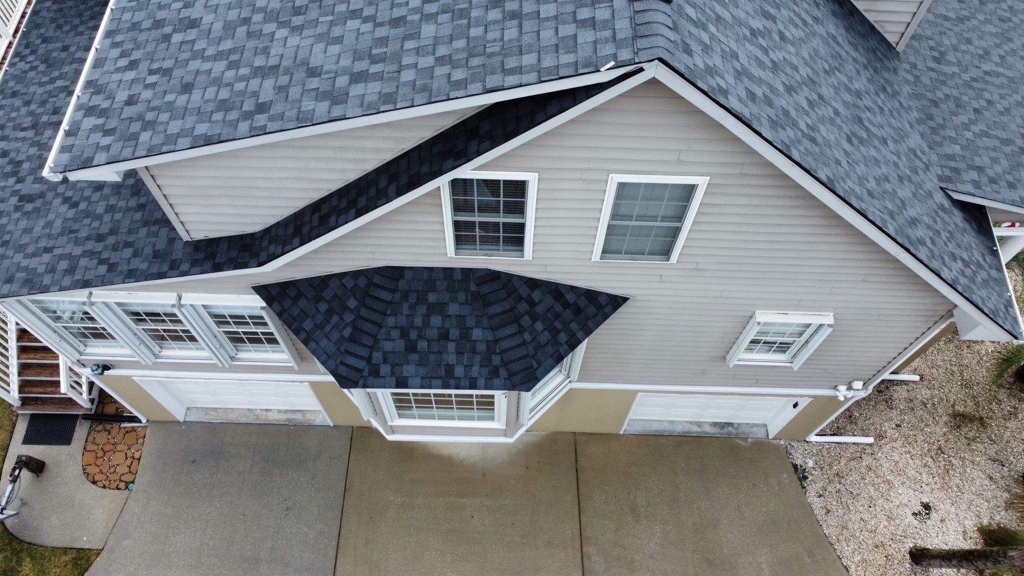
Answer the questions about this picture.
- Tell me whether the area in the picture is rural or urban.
urban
